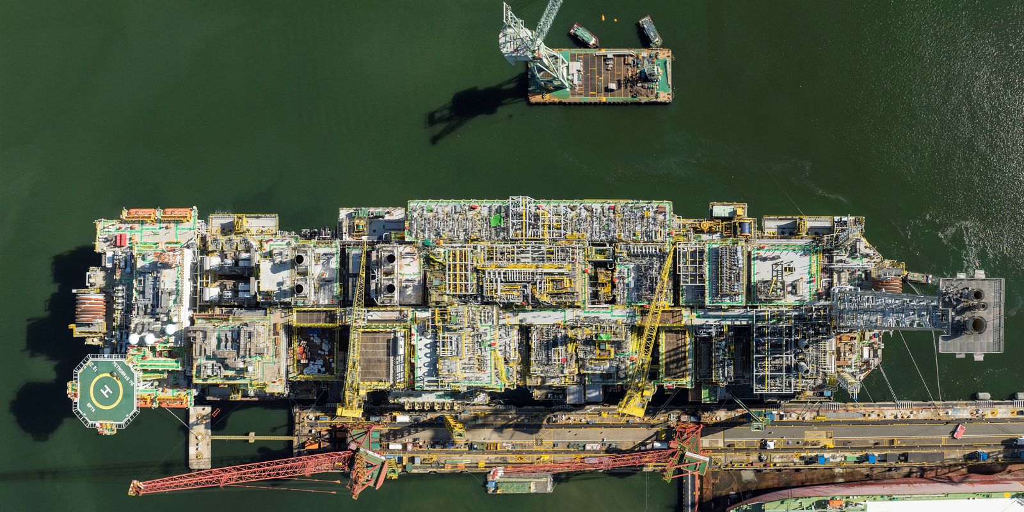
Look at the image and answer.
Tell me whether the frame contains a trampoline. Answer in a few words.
No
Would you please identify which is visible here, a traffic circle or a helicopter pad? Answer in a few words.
helicopter pad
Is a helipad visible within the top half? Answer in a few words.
No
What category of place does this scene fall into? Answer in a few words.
port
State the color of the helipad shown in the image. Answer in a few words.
green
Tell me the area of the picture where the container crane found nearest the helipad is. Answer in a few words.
bottom left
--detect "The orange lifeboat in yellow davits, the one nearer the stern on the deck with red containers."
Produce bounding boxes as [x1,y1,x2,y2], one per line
[124,208,156,225]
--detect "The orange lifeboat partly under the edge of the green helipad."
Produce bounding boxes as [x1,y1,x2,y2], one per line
[137,390,159,407]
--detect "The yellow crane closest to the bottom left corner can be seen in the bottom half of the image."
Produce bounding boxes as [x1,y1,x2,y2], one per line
[339,239,371,415]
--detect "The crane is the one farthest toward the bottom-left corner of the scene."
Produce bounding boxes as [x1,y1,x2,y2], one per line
[127,426,390,500]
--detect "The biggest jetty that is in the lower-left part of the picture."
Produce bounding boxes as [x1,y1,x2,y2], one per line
[188,406,214,470]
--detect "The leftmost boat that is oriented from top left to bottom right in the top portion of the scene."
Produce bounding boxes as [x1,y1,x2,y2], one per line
[566,21,598,48]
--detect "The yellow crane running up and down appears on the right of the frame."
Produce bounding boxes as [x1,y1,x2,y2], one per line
[622,243,676,420]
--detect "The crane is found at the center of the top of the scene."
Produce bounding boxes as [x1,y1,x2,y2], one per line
[500,0,570,97]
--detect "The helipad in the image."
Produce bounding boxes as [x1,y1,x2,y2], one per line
[67,354,156,434]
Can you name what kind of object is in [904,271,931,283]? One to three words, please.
boat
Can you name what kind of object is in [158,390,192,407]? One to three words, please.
boat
